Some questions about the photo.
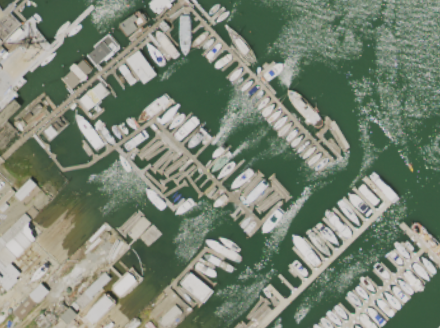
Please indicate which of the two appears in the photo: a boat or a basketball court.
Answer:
boat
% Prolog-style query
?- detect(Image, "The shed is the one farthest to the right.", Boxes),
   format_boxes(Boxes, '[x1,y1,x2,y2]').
[179,270,215,307]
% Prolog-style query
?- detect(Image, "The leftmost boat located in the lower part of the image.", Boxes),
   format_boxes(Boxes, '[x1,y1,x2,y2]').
[30,264,48,281]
